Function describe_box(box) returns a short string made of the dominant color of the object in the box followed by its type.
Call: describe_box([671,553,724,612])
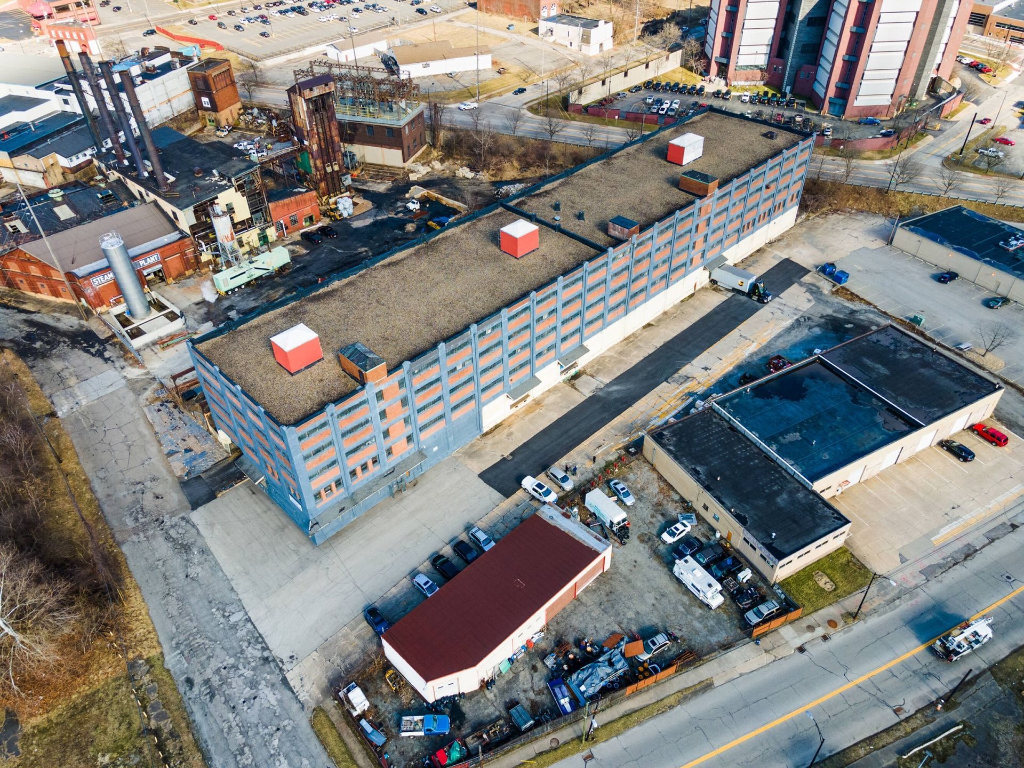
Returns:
white vehicle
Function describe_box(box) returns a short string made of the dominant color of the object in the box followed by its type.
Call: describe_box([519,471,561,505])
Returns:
white truck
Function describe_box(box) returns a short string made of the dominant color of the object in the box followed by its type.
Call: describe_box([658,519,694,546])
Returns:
white car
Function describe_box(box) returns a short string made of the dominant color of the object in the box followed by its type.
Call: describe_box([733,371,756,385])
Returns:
black car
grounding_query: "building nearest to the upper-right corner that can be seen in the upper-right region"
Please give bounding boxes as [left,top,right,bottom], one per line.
[970,1,1024,45]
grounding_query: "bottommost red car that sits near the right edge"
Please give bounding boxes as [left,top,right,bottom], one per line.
[971,419,1011,448]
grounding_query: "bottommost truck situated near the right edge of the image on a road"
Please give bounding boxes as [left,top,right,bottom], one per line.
[932,611,997,661]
